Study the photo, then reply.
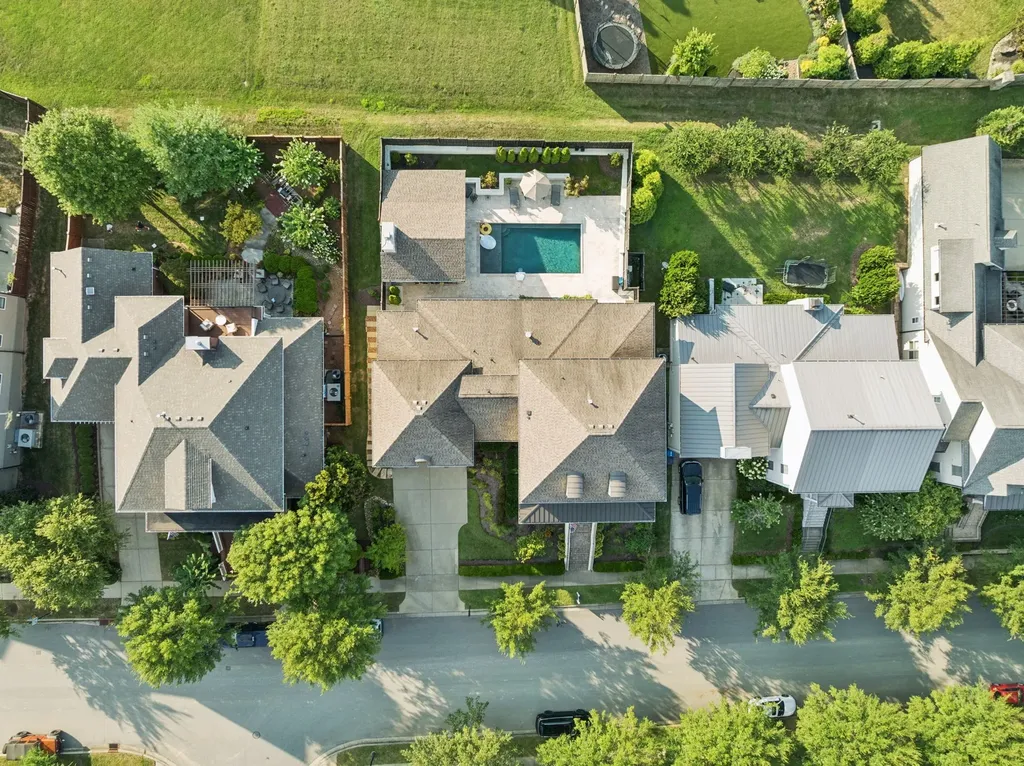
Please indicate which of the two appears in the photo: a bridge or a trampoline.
trampoline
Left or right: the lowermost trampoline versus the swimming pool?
to its right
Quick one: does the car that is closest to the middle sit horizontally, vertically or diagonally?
vertically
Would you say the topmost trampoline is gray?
Yes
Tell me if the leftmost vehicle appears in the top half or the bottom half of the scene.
bottom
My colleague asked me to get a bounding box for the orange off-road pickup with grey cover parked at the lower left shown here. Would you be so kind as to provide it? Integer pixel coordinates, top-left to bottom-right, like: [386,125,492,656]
[5,728,65,759]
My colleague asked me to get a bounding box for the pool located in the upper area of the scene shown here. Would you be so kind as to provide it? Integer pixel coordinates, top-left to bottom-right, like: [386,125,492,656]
[476,221,584,275]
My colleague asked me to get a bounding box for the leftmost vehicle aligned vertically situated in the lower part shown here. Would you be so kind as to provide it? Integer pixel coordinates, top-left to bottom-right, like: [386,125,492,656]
[678,458,706,517]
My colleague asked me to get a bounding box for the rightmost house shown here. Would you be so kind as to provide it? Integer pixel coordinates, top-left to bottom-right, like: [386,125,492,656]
[901,131,1024,511]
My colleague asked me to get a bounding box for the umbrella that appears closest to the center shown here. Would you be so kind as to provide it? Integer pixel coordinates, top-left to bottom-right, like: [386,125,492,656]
[520,163,552,196]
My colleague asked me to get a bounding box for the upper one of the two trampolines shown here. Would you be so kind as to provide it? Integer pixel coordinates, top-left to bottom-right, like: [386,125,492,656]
[592,15,640,72]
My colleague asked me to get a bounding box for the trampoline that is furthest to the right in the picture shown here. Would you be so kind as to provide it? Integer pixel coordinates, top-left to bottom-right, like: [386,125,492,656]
[774,254,841,287]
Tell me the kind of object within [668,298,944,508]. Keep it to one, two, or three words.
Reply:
house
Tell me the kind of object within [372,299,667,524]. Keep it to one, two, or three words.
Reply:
house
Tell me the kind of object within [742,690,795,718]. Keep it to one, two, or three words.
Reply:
car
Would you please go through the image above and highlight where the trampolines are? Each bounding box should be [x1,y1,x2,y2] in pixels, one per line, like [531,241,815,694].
[774,254,841,287]
[592,15,640,72]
